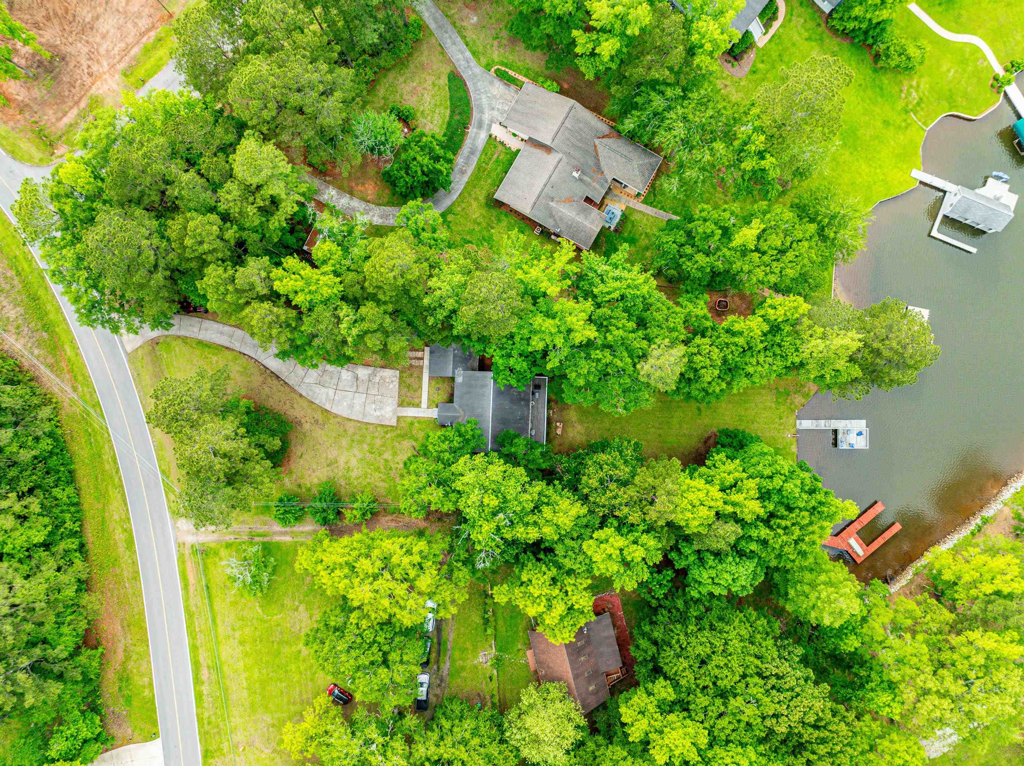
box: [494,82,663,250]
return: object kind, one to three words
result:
house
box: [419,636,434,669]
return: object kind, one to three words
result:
car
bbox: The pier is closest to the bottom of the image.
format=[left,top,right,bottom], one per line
[822,501,903,564]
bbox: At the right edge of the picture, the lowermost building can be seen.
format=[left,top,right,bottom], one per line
[929,184,1014,236]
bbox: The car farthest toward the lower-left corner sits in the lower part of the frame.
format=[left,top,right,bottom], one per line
[325,680,355,707]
